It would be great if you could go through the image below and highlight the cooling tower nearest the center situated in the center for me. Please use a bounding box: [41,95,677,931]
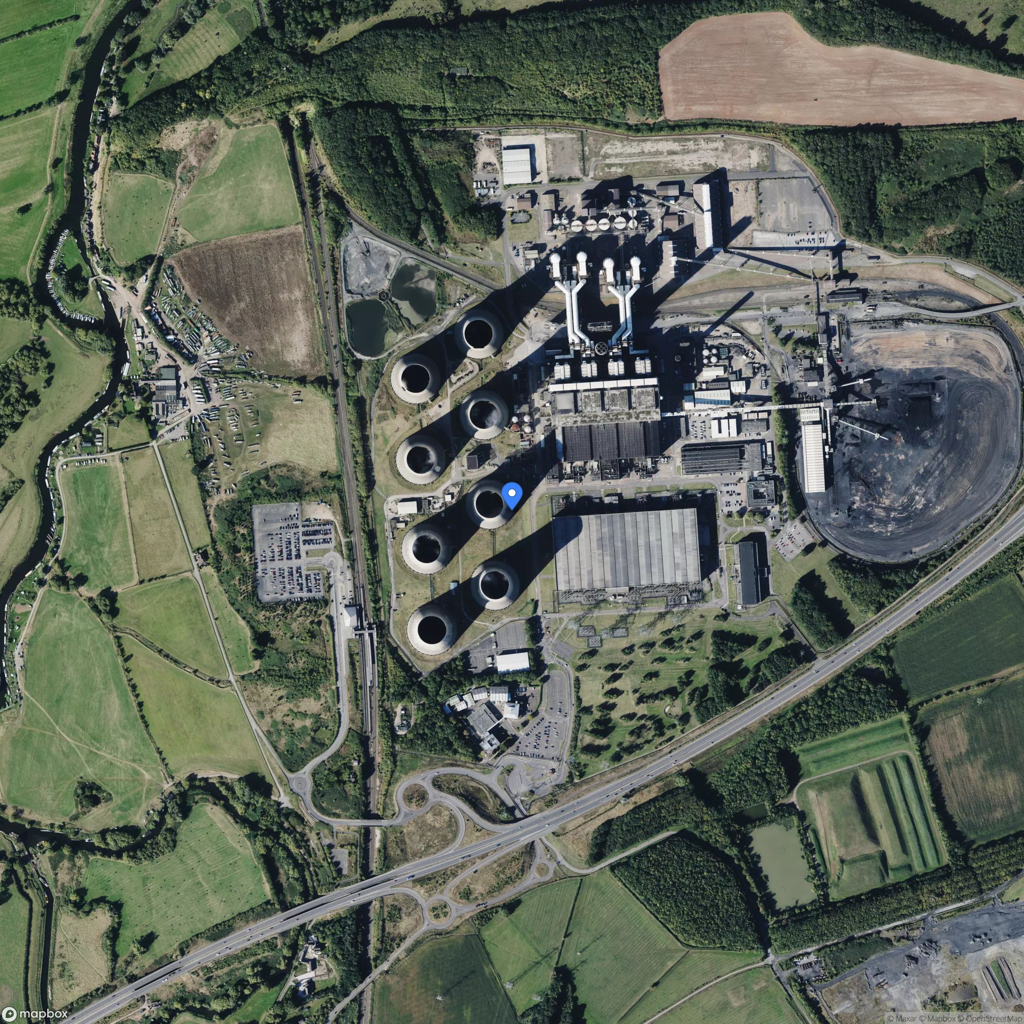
[464,478,516,530]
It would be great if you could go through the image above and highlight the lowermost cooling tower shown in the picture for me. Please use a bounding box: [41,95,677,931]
[406,604,458,656]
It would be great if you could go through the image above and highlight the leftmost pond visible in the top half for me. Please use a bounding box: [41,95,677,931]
[347,299,387,357]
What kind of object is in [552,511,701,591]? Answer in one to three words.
building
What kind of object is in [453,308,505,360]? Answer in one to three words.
cooling tower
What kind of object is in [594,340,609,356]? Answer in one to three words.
chimney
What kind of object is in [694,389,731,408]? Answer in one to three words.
shed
